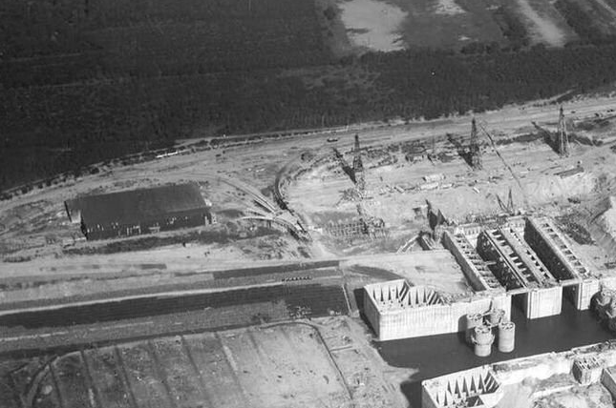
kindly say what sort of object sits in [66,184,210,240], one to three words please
building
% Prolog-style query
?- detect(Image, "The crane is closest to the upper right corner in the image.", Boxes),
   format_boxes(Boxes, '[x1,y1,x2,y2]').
[480,122,537,212]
